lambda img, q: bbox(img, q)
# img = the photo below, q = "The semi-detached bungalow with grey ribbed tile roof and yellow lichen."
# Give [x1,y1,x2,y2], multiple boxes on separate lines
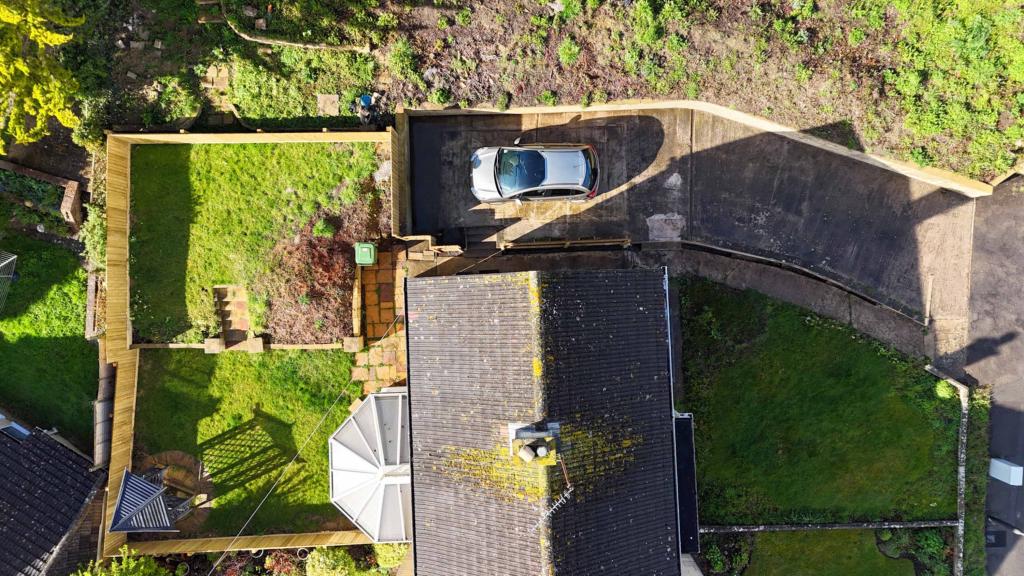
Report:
[397,252,702,576]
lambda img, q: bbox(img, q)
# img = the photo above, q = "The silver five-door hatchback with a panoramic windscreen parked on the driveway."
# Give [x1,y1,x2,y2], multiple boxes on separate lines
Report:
[467,135,602,207]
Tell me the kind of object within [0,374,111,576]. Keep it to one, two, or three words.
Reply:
house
